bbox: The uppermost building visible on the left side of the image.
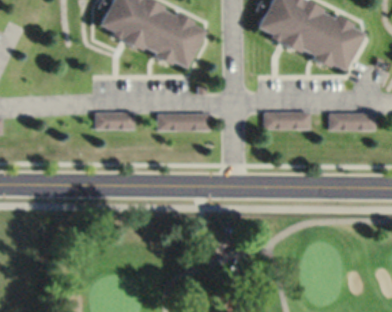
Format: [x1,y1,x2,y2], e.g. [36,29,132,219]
[102,0,208,70]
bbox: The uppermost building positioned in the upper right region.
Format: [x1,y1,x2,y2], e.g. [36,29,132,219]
[258,0,364,75]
